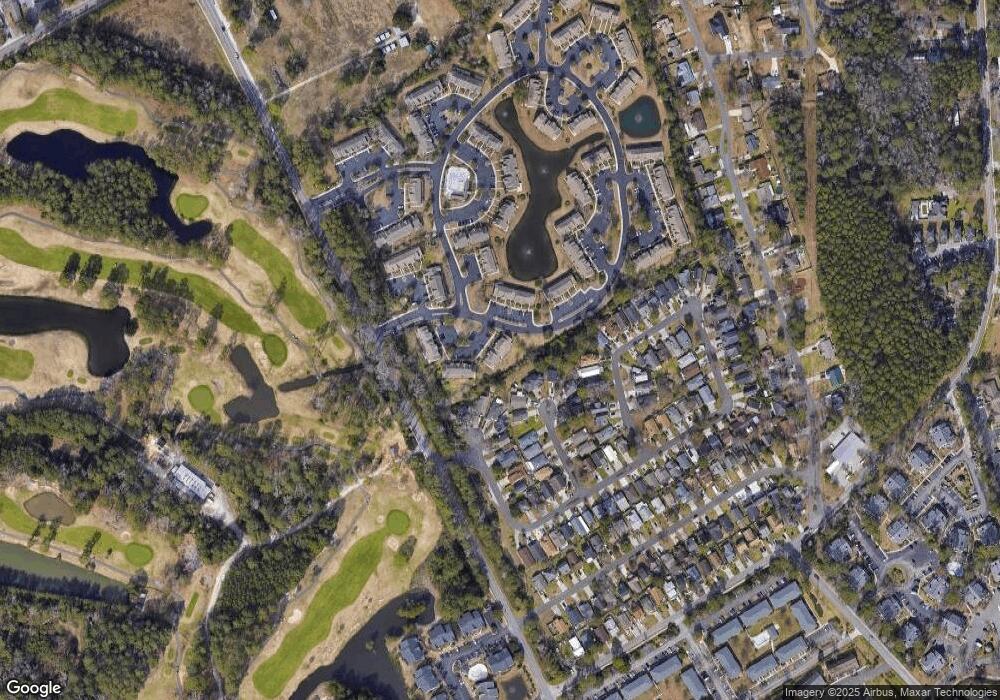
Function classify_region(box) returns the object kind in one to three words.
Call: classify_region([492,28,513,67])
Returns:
building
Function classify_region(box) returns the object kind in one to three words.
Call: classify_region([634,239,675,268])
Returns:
building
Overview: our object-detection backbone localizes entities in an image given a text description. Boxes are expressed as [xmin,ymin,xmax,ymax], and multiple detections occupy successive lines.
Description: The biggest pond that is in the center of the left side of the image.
[226,346,278,422]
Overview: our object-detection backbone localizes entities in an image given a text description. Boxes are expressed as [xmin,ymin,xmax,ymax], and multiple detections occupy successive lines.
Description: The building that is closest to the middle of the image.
[480,331,511,365]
